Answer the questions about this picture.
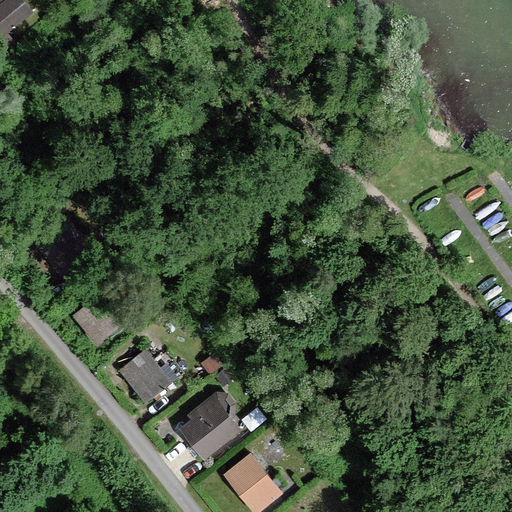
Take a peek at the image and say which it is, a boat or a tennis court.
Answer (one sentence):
I can see a boat in this picture.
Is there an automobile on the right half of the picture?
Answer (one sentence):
No, no automobile can be made out on the right half of the picture.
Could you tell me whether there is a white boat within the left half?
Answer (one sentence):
No, the scene shows no white boat within the left half.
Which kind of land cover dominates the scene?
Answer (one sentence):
For the most part, this view shows trees.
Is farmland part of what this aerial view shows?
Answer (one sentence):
No, there is no farmland in the image.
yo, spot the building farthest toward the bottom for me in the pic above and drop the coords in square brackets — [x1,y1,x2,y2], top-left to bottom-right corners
[222,453,282,512]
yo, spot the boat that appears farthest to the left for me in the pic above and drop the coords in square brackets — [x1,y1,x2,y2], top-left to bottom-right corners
[418,198,440,213]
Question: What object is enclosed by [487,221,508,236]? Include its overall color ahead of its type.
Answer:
white boat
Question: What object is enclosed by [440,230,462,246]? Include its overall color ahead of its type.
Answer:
white boat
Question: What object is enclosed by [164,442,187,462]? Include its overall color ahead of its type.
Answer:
white car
